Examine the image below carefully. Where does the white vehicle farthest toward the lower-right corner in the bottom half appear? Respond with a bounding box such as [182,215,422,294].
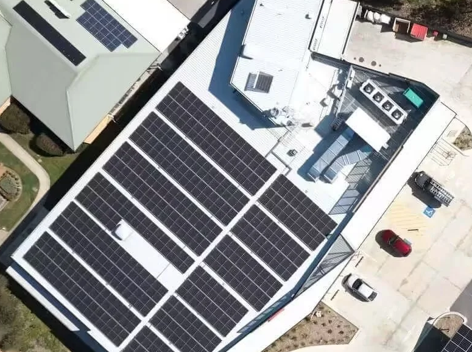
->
[342,272,381,305]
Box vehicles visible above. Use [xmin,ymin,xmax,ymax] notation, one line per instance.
[411,171,457,210]
[342,272,381,305]
[377,229,415,259]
